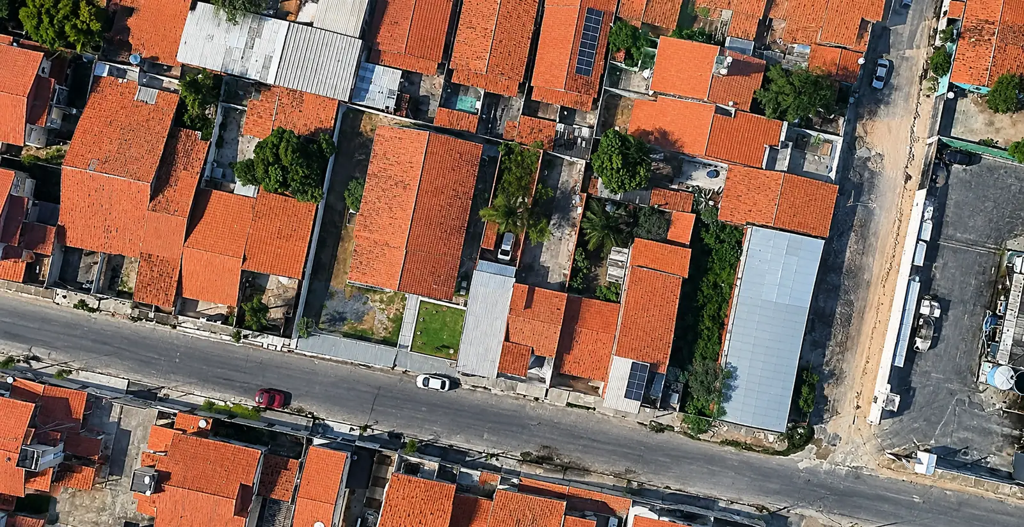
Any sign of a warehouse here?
Yes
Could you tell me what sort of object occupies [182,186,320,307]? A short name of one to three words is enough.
house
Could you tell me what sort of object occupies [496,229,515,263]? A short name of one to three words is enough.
car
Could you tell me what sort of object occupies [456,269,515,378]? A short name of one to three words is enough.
shed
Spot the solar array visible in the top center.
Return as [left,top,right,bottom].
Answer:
[575,7,603,76]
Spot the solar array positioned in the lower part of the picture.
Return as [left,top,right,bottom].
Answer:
[626,364,648,401]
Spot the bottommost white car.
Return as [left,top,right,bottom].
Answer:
[417,374,451,391]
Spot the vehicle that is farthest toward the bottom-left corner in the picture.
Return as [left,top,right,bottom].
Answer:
[255,390,286,407]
